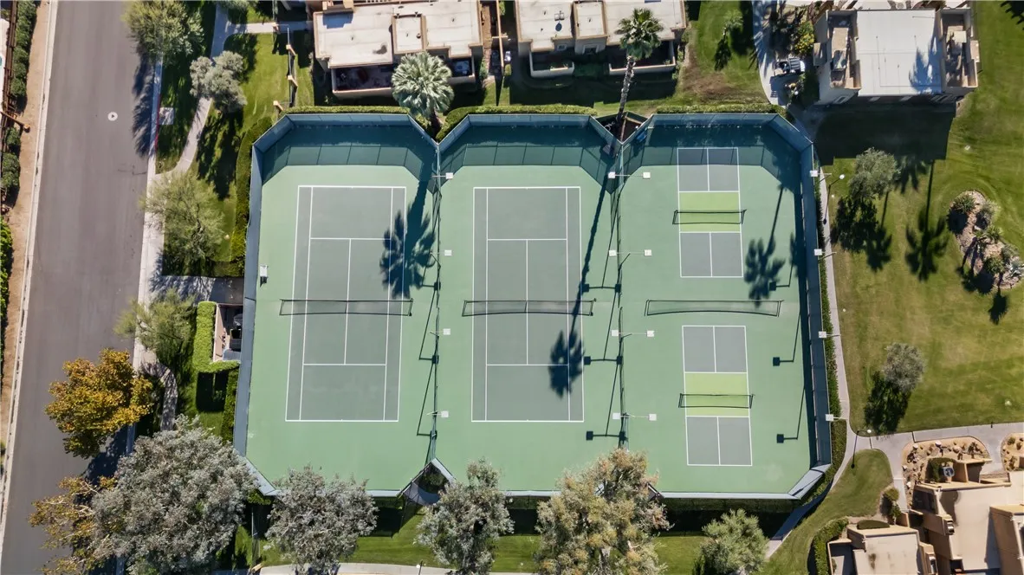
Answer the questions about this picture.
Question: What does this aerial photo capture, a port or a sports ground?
sports ground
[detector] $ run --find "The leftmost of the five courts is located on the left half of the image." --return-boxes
[247,126,442,492]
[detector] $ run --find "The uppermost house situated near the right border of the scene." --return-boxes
[809,8,980,114]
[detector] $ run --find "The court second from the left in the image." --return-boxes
[439,126,621,491]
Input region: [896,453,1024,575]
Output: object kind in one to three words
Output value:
house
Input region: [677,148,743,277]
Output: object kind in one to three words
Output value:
sports court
